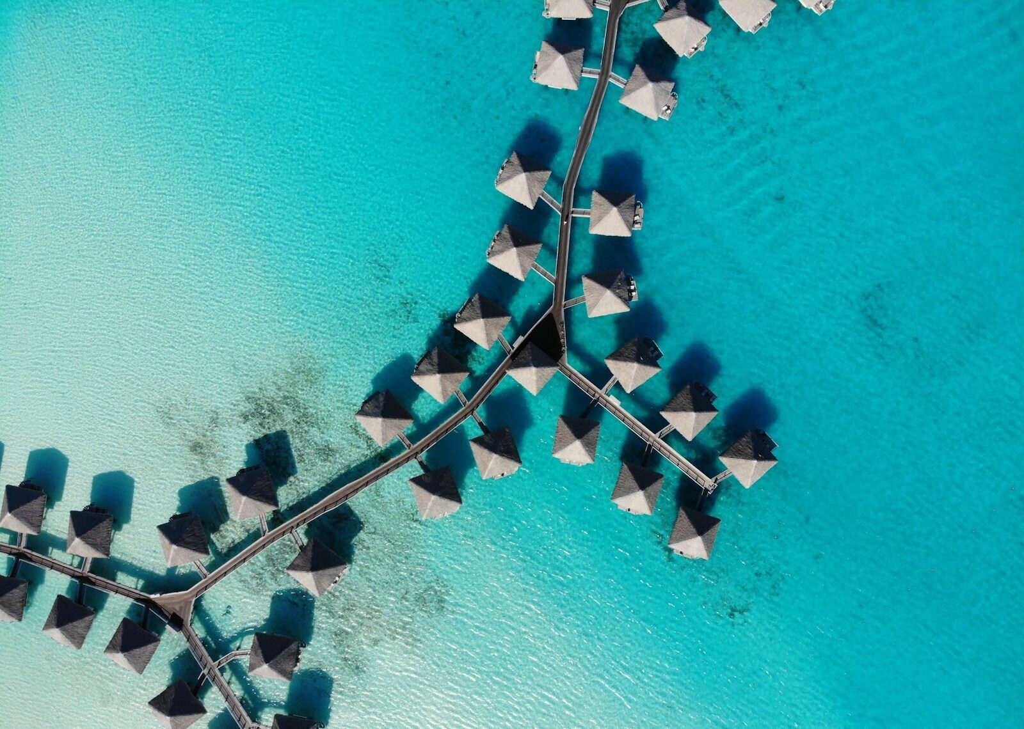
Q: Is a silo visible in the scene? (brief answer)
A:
No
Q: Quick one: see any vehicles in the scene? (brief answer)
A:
No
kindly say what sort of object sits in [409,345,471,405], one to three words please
house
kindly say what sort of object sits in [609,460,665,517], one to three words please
house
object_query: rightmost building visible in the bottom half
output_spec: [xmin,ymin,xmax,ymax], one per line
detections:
[718,428,779,490]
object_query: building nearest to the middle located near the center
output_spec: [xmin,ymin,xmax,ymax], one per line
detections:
[505,339,561,397]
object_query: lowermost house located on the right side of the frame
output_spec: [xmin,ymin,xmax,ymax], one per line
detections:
[666,503,723,562]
